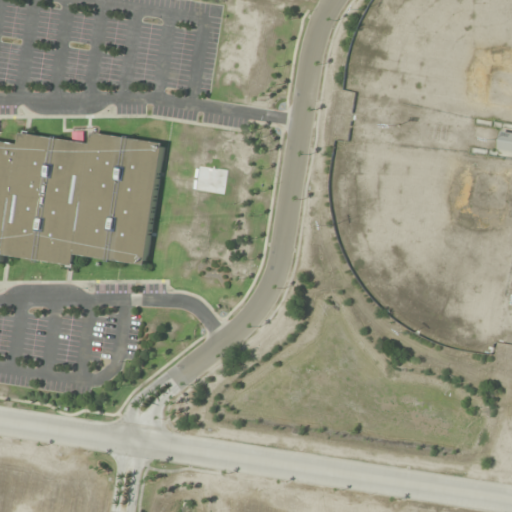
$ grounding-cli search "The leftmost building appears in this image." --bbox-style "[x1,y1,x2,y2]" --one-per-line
[0,131,166,268]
